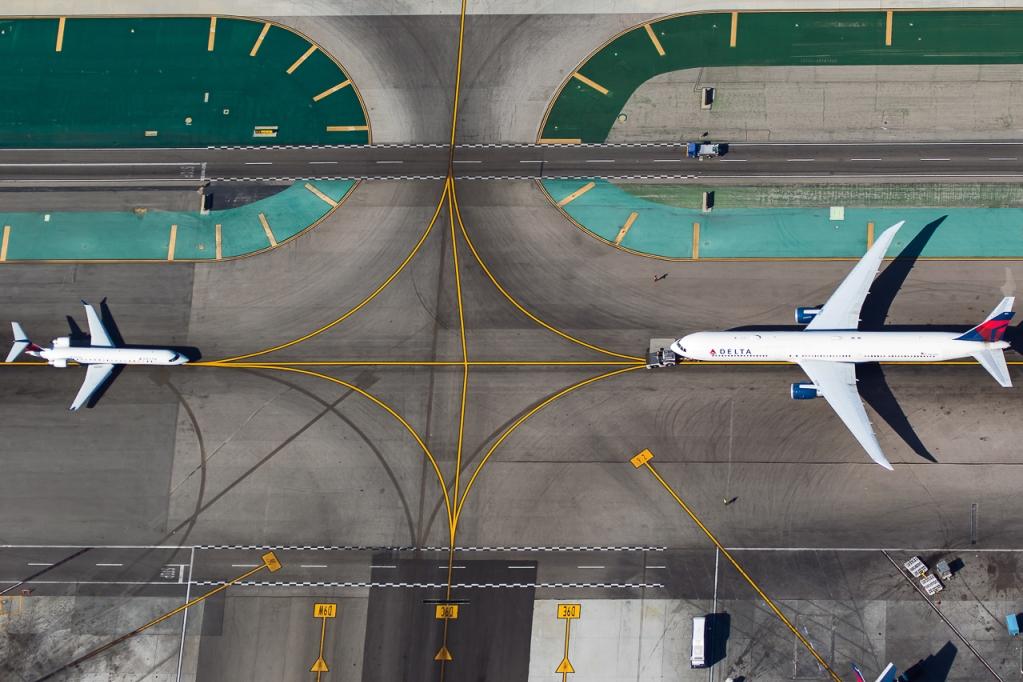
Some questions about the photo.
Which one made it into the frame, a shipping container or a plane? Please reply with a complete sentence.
The image shows a plane.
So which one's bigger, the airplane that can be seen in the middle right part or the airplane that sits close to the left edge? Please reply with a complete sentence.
Compared with the airplane that sits close to the left edge, the airplane that can be seen in the middle right part is the larger one.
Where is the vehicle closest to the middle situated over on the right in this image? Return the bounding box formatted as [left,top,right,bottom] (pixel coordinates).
[645,351,687,369]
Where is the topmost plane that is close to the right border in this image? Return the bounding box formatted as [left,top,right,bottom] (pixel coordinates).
[669,220,1014,469]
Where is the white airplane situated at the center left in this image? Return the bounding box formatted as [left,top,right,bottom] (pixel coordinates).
[7,301,189,410]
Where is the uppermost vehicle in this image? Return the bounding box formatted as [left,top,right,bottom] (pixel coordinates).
[686,142,719,160]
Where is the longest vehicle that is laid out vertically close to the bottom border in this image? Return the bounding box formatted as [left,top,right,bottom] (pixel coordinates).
[689,618,706,669]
